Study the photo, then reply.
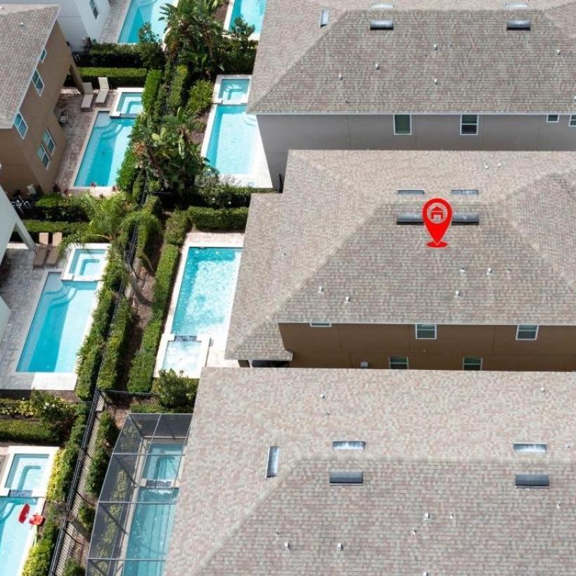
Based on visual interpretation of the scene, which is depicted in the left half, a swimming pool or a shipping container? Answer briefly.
swimming pool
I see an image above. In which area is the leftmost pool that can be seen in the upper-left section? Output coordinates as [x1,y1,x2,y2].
[67,87,144,189]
